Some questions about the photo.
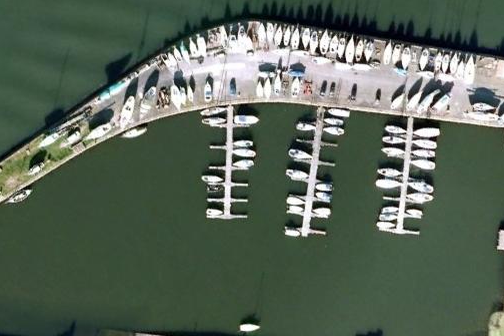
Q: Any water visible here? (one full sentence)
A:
Yes, the picture does contain water.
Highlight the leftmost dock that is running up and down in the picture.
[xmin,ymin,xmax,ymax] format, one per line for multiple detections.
[206,105,250,220]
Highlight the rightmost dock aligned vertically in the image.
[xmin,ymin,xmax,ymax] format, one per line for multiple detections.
[379,114,428,234]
